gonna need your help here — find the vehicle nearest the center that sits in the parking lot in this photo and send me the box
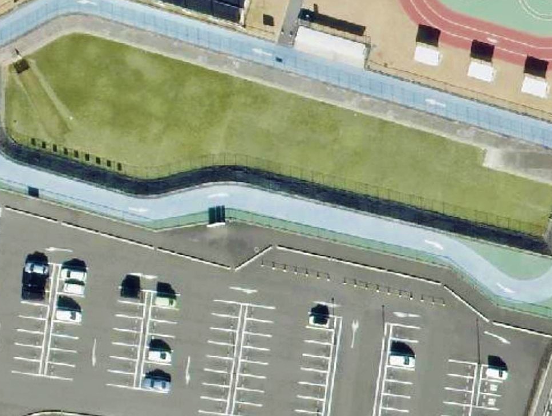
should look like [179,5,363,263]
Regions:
[308,315,331,328]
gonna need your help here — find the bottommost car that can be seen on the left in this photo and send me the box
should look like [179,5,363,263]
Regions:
[142,380,171,394]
